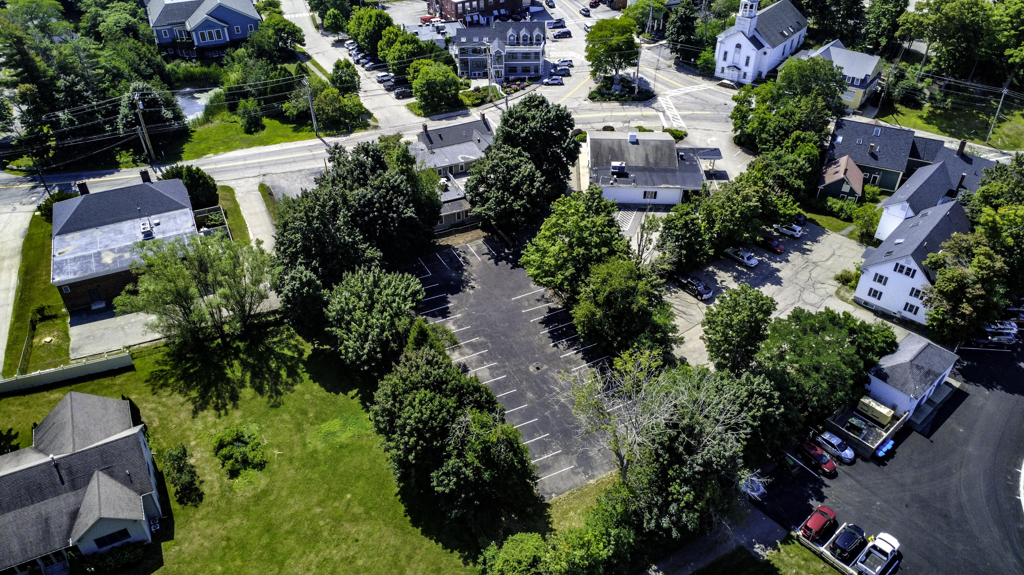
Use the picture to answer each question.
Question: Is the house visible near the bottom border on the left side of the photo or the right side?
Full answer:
The house visible near the bottom border sits on the left side.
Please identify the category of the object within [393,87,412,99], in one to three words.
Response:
vehicle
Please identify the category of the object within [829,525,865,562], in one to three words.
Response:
car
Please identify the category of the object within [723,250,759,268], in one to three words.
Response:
car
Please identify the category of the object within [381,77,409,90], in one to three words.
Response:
vehicle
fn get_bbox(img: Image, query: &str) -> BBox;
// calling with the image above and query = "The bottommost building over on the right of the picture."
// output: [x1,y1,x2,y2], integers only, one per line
[865,332,962,418]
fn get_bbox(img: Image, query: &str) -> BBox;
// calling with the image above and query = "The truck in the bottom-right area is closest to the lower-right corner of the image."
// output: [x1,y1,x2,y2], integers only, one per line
[854,533,899,575]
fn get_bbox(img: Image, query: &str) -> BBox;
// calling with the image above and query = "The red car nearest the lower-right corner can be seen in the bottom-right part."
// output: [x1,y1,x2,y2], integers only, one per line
[801,507,836,543]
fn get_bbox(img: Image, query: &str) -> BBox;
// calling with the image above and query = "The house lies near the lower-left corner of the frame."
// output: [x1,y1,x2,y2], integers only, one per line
[0,395,161,575]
